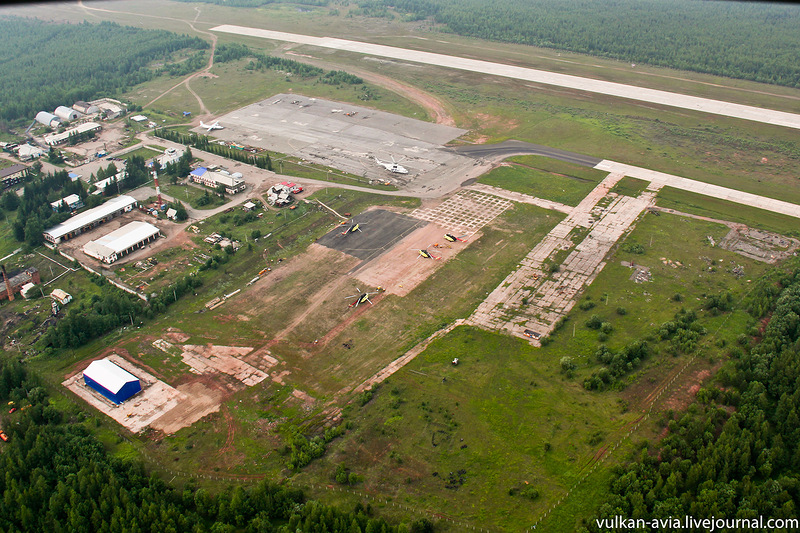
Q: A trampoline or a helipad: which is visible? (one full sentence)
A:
The image shows a helipad.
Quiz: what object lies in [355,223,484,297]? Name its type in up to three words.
helipad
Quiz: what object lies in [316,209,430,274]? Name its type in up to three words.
helipad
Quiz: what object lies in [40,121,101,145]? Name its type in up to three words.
building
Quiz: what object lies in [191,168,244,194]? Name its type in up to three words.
building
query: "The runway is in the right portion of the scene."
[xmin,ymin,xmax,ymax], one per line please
[210,24,800,128]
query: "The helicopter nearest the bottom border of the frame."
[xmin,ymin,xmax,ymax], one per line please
[344,288,378,308]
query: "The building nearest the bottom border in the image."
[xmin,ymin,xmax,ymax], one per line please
[82,360,141,404]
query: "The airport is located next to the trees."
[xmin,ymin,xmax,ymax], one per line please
[180,24,800,392]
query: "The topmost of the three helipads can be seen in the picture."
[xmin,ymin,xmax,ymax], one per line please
[411,188,516,237]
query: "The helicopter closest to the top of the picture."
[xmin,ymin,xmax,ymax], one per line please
[370,155,410,175]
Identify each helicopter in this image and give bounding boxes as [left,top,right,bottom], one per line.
[344,288,378,308]
[445,232,472,242]
[338,220,365,235]
[415,244,445,259]
[370,155,410,175]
